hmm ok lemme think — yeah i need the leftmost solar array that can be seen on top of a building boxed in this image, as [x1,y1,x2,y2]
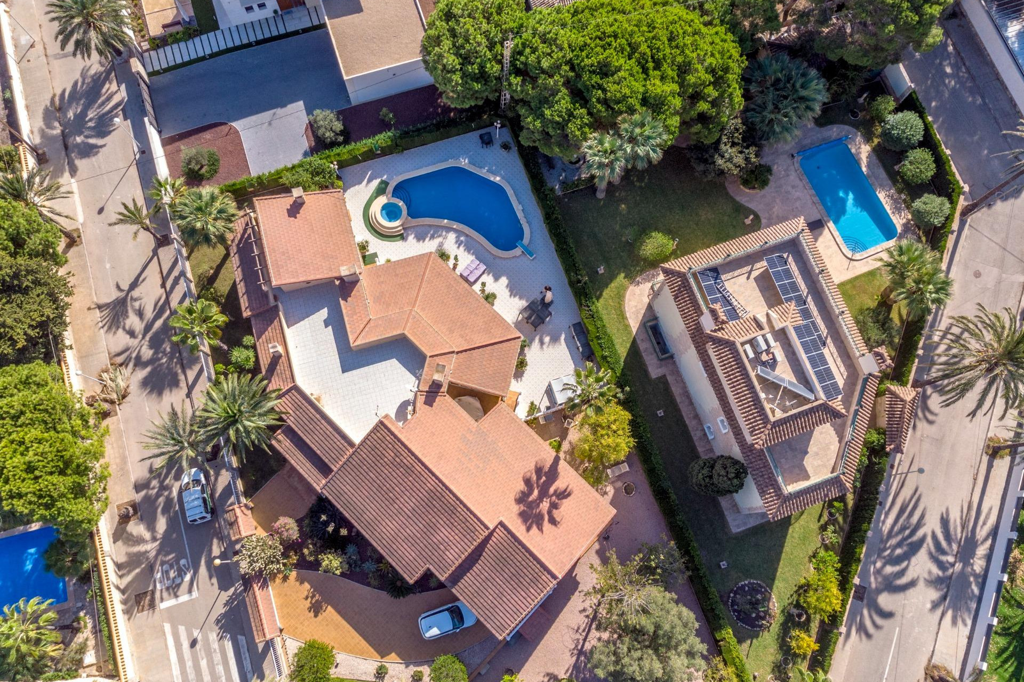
[697,268,740,324]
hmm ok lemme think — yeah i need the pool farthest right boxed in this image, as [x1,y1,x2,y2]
[793,136,903,258]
